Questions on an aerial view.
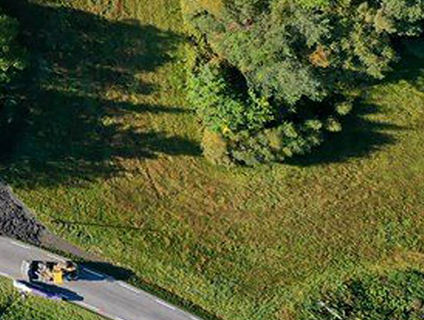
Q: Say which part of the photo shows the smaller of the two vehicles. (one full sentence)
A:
The smaller of the two vehicles sits in the bottom left section of the image.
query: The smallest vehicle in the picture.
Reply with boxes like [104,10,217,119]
[14,278,59,303]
